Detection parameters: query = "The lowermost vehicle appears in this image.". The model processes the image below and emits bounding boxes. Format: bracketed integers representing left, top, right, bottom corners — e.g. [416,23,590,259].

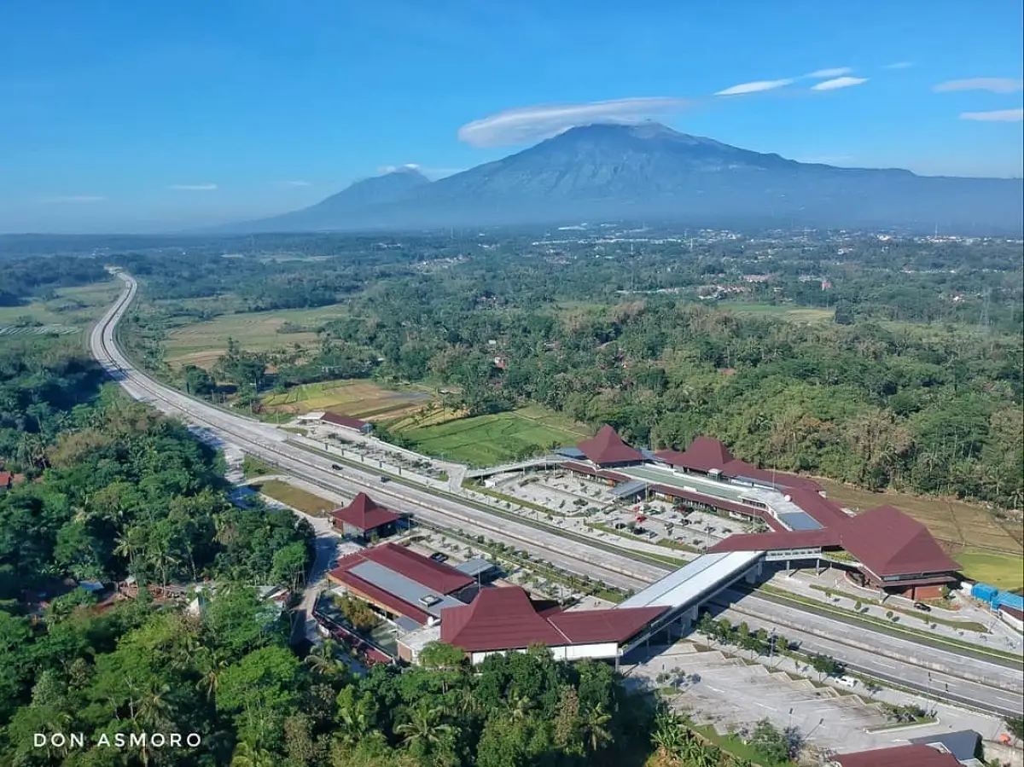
[835,672,858,685]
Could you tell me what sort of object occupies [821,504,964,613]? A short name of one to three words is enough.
building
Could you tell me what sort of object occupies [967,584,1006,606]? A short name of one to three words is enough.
shed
